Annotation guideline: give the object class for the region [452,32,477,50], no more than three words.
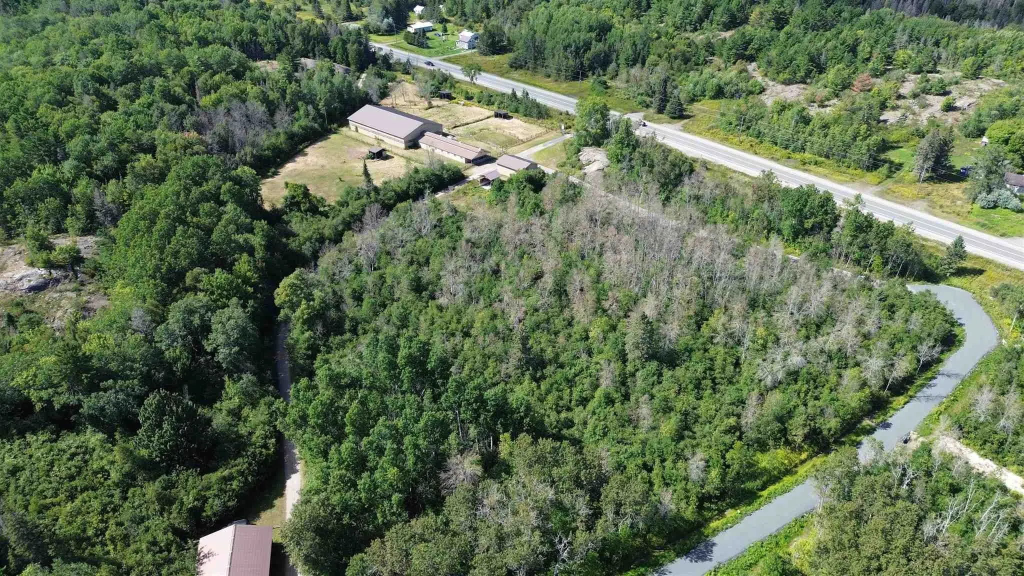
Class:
house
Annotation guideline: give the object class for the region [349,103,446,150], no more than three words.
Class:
barn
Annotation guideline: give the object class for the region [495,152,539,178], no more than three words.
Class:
building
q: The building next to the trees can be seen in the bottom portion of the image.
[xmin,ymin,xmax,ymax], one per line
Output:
[192,519,275,576]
